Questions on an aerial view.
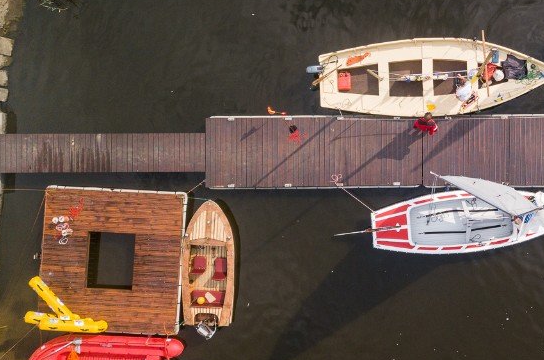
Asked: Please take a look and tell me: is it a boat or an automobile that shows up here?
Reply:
boat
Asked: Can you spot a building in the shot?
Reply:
No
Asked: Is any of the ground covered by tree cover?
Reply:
No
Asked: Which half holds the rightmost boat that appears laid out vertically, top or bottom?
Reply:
bottom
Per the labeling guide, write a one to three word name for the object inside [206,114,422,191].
pier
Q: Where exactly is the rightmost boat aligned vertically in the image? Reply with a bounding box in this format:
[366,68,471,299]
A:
[183,200,237,339]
